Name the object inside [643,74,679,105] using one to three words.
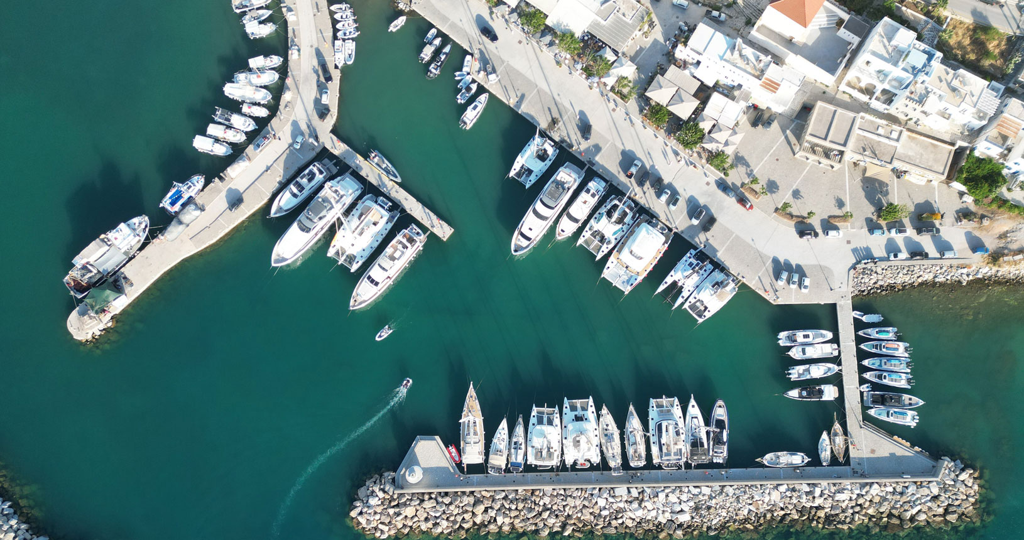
tent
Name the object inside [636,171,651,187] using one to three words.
car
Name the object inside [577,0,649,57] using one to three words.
building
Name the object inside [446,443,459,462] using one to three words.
boat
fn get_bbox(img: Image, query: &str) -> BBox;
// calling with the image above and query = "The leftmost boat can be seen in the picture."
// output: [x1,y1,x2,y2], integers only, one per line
[65,216,164,306]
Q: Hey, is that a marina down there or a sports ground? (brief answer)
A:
marina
